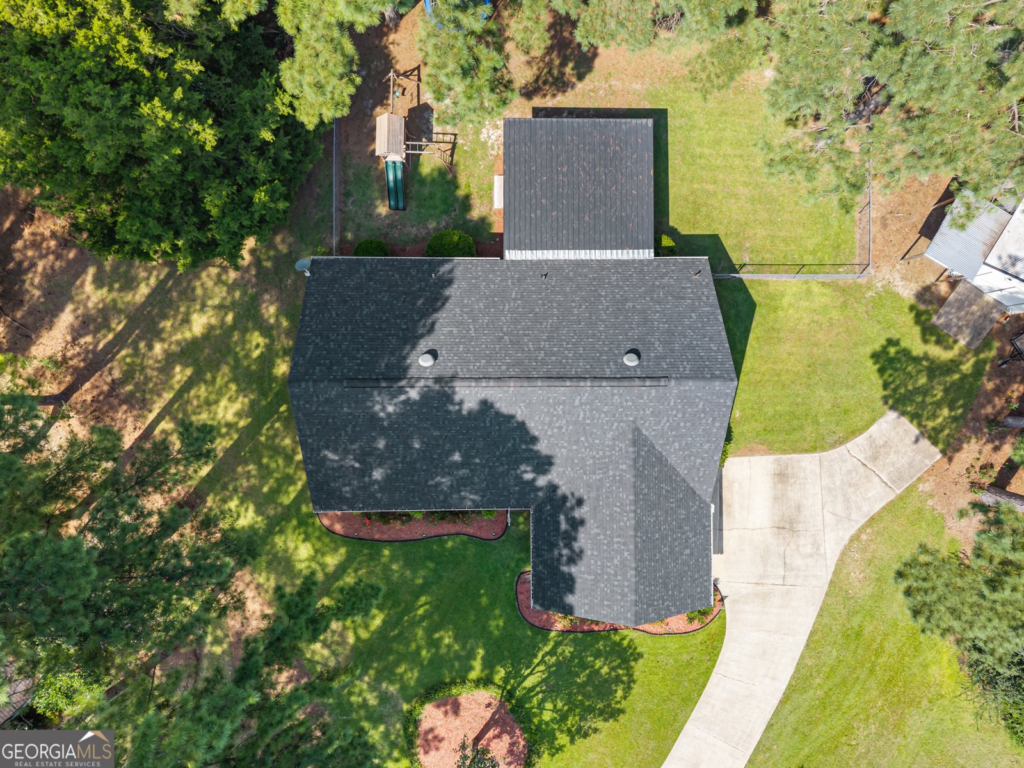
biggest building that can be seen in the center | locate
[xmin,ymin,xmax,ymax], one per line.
[287,255,736,627]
